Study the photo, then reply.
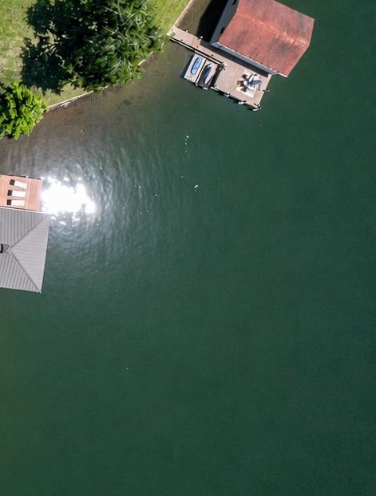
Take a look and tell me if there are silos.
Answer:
No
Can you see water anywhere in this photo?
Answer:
Yes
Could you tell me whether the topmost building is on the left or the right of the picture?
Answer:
right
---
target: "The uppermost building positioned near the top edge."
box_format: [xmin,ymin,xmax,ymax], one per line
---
[202,0,314,77]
